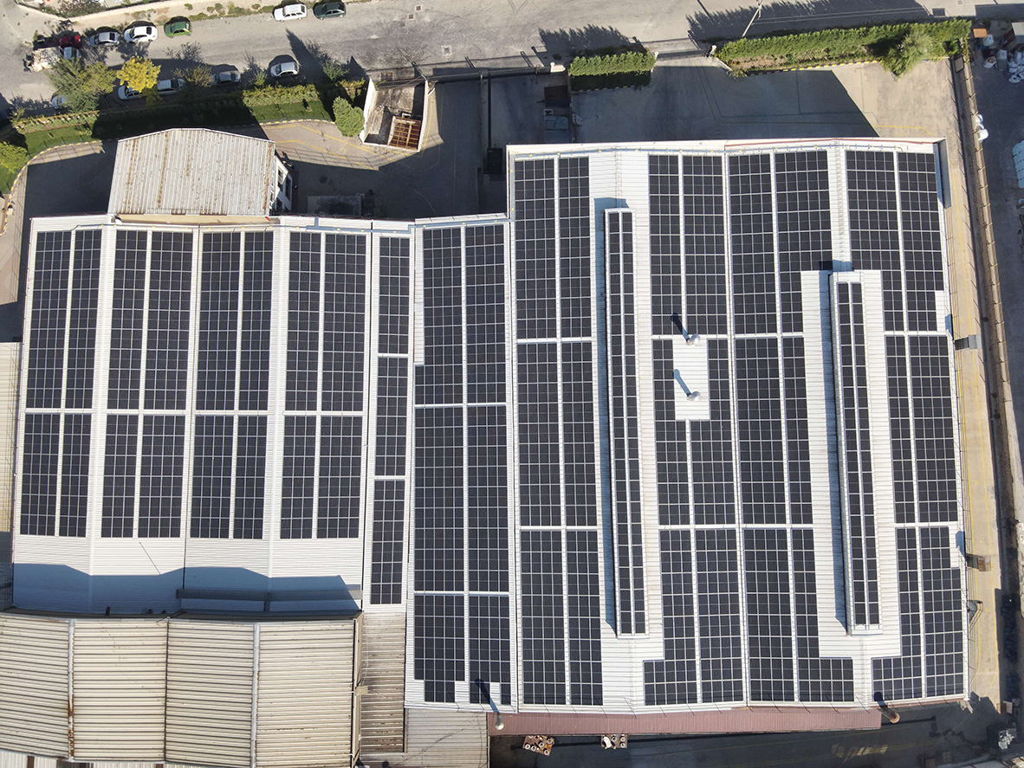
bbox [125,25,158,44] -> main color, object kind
white car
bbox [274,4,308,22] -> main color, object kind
white car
